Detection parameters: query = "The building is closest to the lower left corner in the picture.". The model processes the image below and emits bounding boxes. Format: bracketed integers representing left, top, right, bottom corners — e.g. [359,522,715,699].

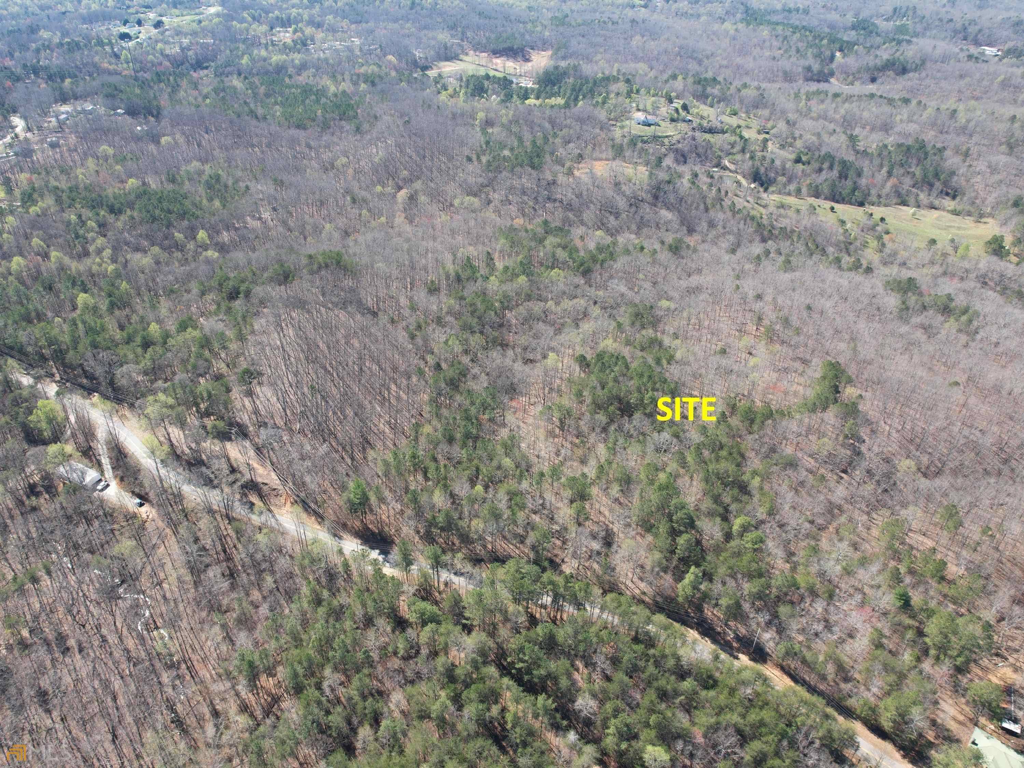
[55,460,102,490]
